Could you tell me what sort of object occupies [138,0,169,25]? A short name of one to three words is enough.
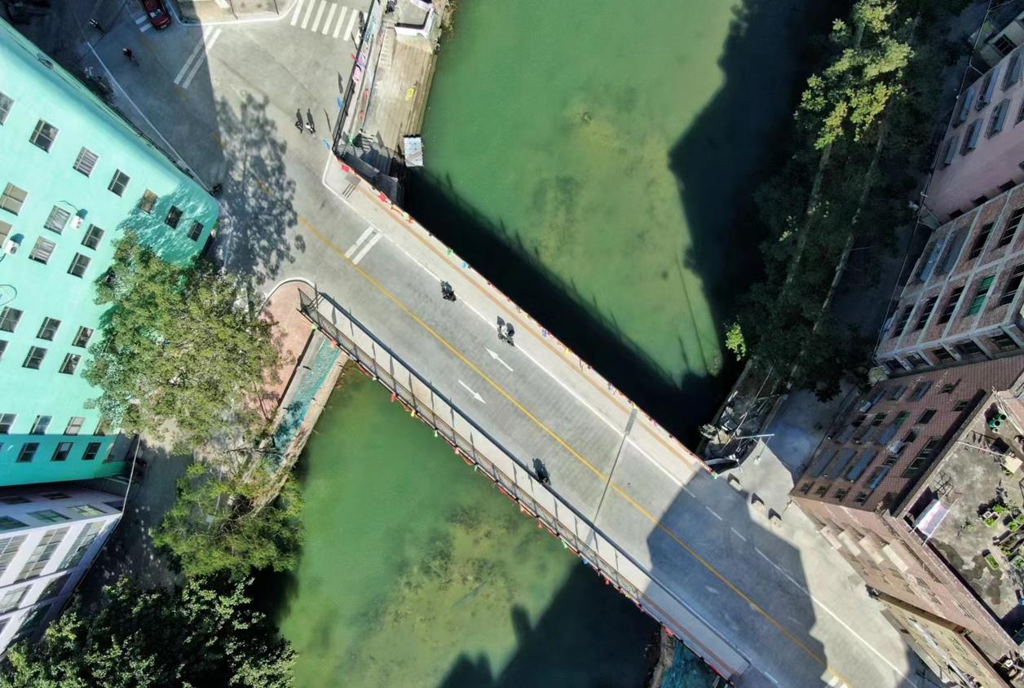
car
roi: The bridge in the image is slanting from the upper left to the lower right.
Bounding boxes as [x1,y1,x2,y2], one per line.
[293,164,818,688]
